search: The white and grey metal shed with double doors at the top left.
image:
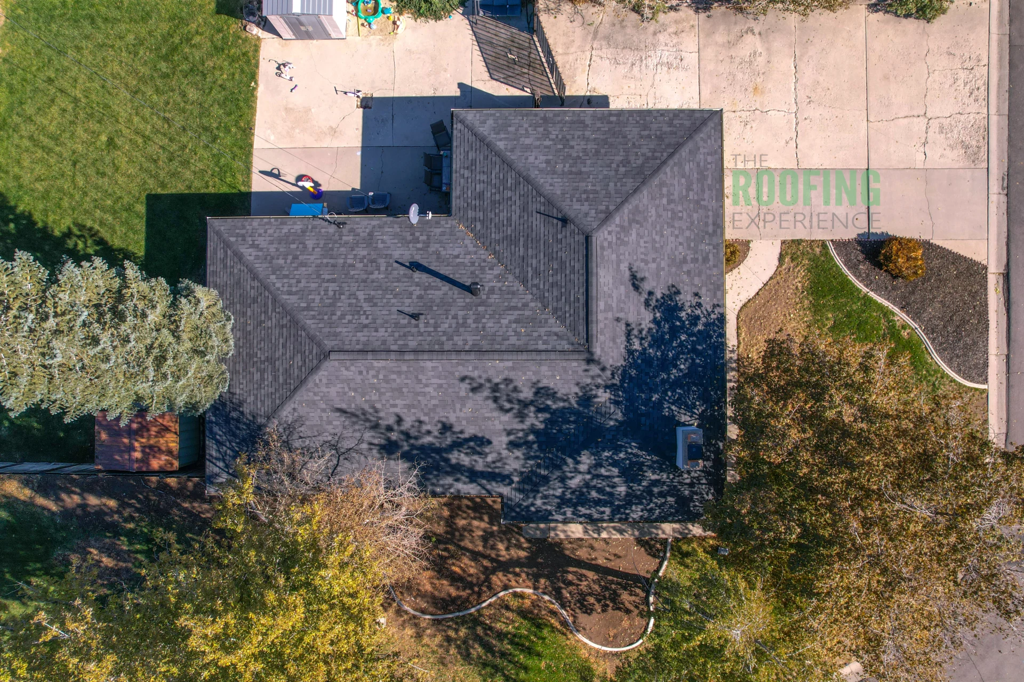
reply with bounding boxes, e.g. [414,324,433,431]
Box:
[263,0,347,39]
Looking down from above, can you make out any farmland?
No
